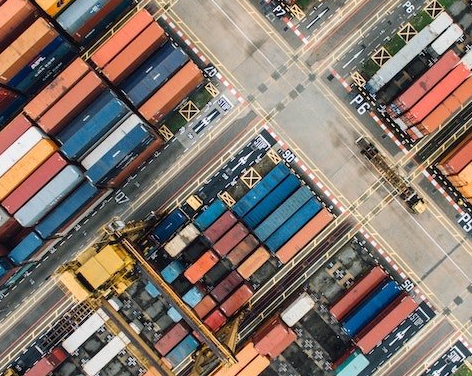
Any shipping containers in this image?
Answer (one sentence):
Yes, I can see a shipping container in this picture.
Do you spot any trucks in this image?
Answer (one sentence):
Yes, looking at the shot, I can spot a truck.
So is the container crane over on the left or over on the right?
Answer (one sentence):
The container crane is on the left side of the image.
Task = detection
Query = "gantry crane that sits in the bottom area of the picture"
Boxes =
[49,207,250,376]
